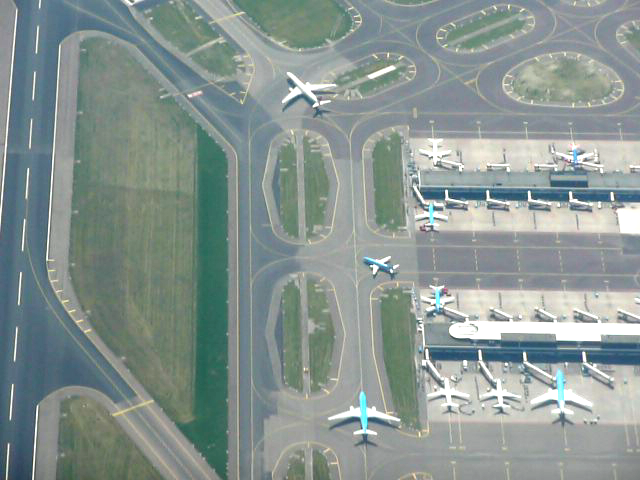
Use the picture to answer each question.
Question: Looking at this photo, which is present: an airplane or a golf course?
airplane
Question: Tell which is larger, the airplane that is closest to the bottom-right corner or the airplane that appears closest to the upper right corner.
the airplane that is closest to the bottom-right corner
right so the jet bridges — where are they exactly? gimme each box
[486,191,511,209]
[629,165,640,174]
[534,163,559,172]
[569,192,593,210]
[444,191,469,209]
[578,160,604,173]
[486,163,511,172]
[527,192,552,209]
[441,305,470,321]
[534,306,558,322]
[412,178,427,207]
[439,158,464,171]
[478,351,498,385]
[522,351,558,383]
[616,308,640,322]
[489,306,514,322]
[571,308,602,323]
[582,352,614,384]
[610,193,622,209]
[425,350,446,383]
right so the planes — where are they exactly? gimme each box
[531,370,592,413]
[421,281,454,313]
[329,391,399,434]
[416,204,447,227]
[419,139,450,166]
[428,379,468,408]
[366,258,399,276]
[554,143,595,171]
[480,380,521,409]
[278,74,334,108]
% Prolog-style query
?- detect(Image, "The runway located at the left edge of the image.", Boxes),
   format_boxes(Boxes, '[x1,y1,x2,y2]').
[0,0,243,480]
